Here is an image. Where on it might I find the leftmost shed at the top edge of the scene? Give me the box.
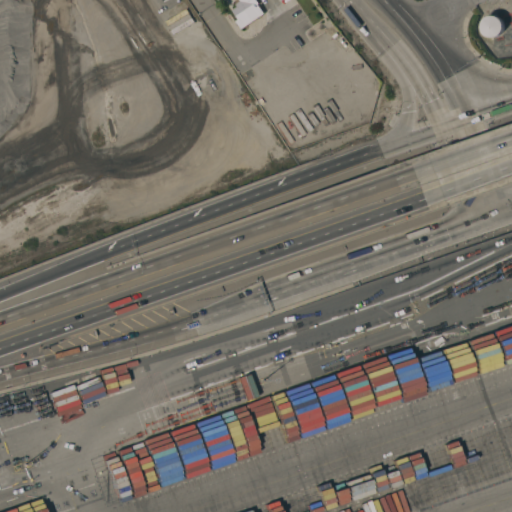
[165,9,194,35]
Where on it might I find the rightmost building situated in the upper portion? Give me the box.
[229,0,262,30]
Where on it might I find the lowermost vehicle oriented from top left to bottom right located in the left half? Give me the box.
[64,484,90,502]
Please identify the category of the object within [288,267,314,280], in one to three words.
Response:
vehicle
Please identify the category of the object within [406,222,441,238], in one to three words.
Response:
vehicle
